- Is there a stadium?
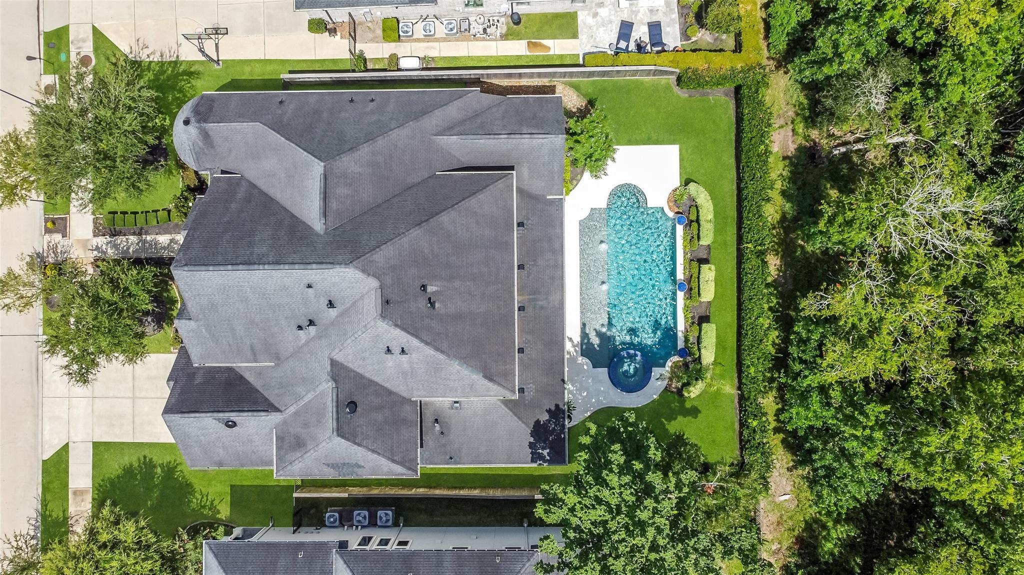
No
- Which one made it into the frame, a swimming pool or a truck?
swimming pool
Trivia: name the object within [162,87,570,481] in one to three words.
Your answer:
house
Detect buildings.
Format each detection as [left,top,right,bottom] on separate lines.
[202,517,570,575]
[293,0,581,24]
[162,87,570,481]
